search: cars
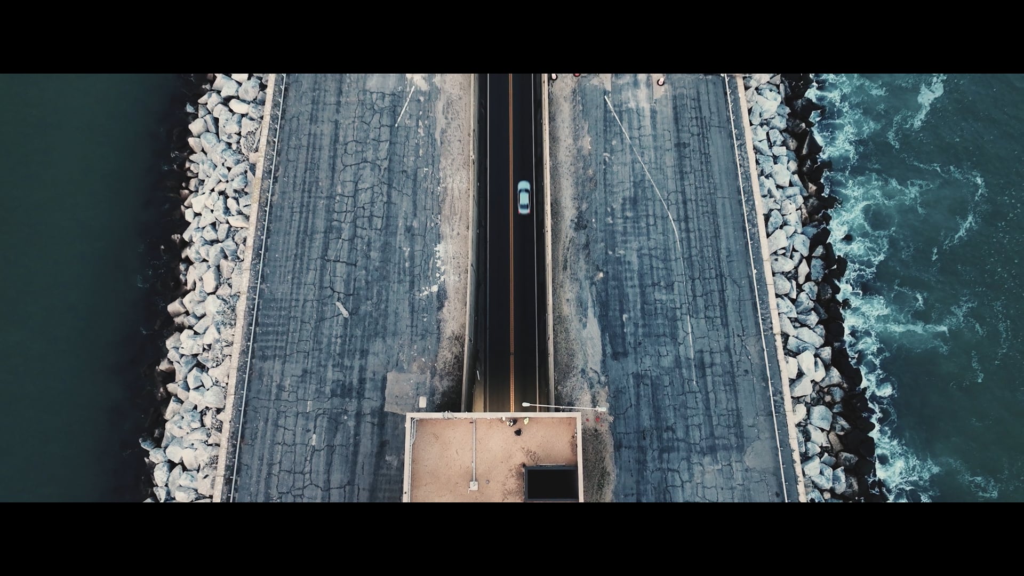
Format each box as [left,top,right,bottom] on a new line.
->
[517,180,531,213]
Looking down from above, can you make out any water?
Yes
